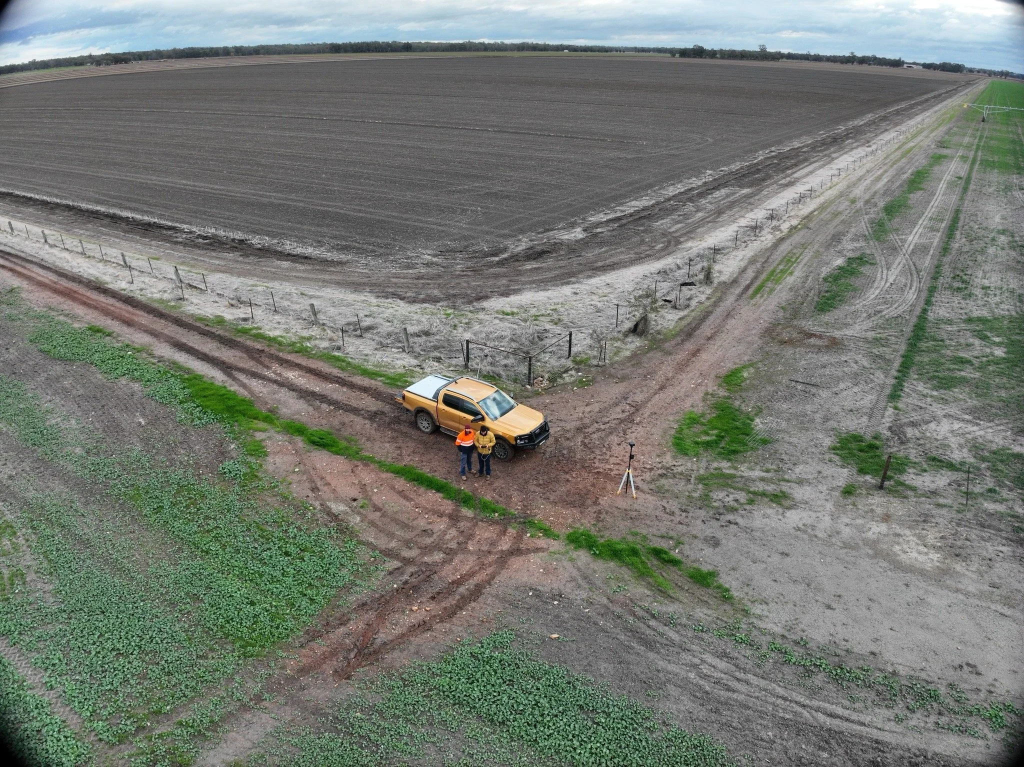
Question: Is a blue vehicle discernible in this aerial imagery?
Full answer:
No, no blue vehicle is visible in the view.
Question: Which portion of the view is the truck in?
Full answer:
Look in the center portion of the view to spot the truck.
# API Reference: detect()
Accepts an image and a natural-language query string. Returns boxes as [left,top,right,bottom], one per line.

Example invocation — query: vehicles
[394,374,553,462]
